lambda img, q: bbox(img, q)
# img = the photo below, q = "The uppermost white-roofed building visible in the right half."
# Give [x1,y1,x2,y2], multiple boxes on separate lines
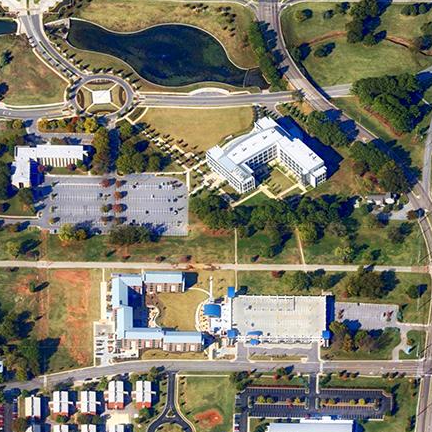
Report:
[205,117,327,194]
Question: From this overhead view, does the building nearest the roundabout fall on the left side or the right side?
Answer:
left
